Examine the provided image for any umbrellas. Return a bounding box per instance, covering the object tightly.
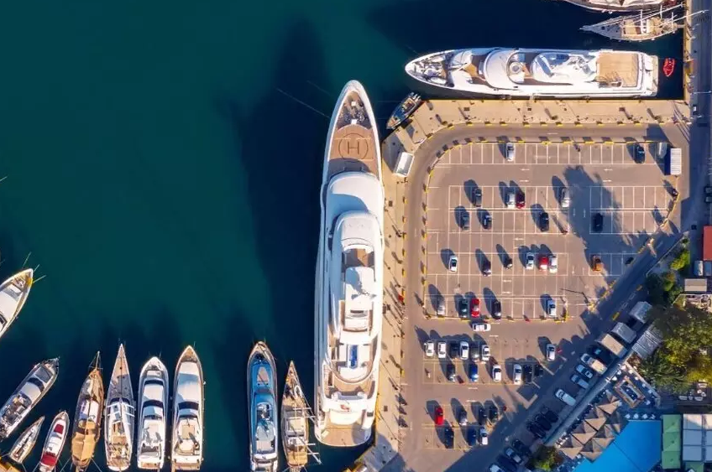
[662,432,681,451]
[662,451,681,468]
[584,404,609,428]
[662,414,681,432]
[597,391,623,414]
[570,418,596,444]
[593,422,618,447]
[557,433,582,458]
[580,437,605,461]
[606,408,631,432]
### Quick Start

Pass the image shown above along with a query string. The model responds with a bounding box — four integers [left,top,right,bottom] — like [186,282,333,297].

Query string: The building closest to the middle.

[390,151,413,177]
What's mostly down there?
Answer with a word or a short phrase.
water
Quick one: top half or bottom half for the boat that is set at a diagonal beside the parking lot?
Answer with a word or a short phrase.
top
